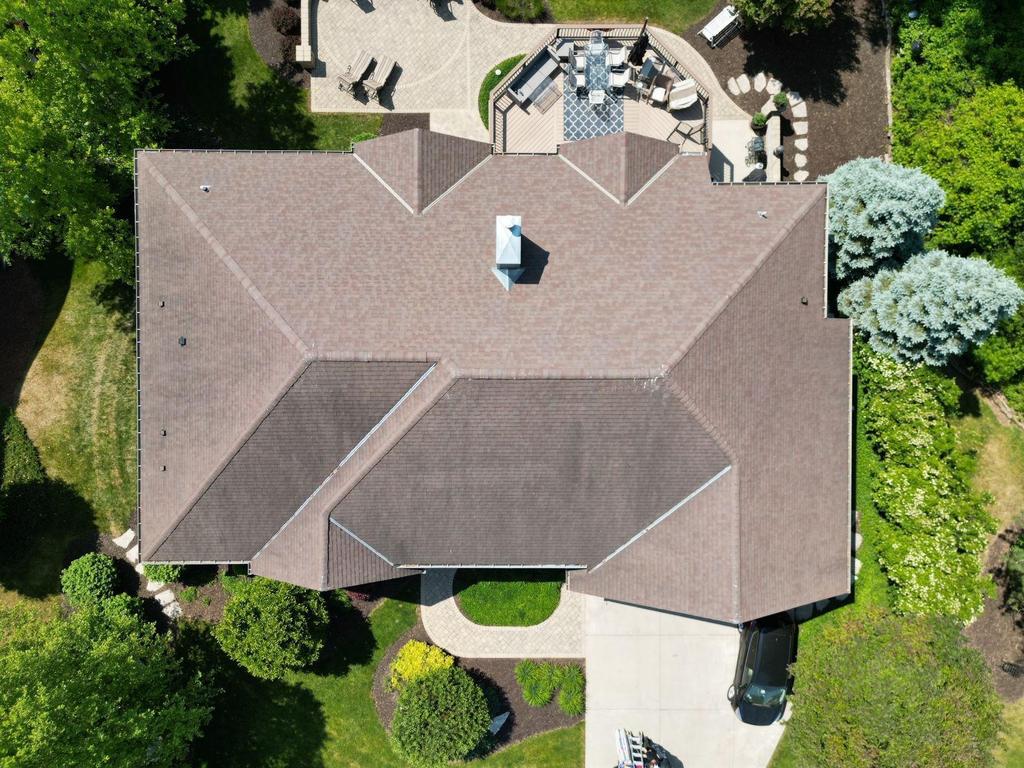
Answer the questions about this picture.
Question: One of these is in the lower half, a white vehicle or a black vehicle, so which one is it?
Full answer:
There is a black vehicle in the lower half.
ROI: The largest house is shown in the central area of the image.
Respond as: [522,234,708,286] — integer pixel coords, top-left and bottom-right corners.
[134,127,856,623]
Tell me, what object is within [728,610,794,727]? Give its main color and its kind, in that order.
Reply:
black car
